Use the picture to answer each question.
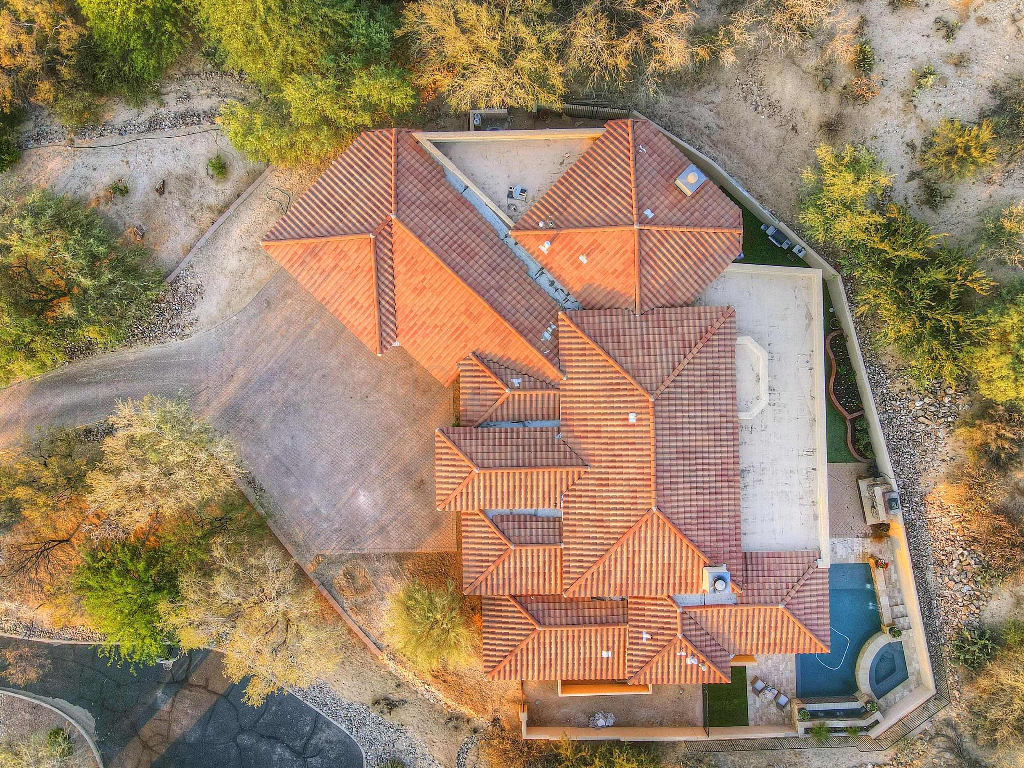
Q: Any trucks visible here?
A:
No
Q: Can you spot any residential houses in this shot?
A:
Yes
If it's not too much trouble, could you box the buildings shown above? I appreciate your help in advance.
[259,118,832,696]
